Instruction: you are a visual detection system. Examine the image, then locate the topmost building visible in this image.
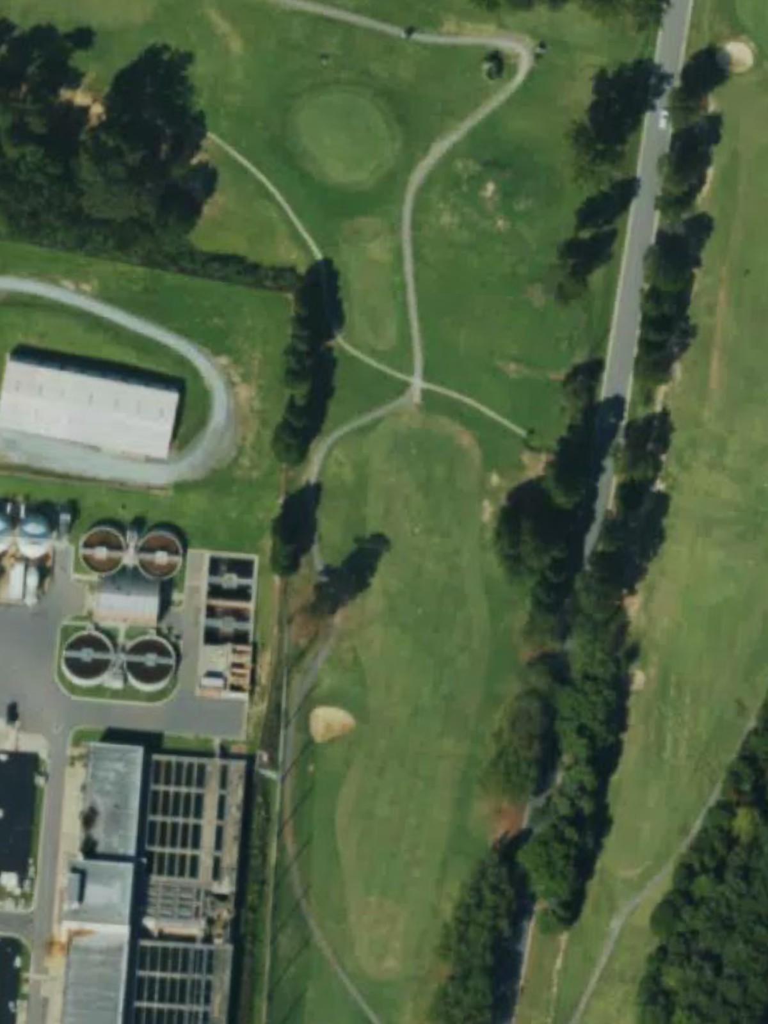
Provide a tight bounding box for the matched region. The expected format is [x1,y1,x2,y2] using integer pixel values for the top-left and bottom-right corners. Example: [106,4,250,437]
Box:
[0,360,179,465]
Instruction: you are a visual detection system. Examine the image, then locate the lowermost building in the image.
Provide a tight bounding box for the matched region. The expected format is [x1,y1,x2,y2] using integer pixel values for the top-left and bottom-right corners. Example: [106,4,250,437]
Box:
[59,922,129,1024]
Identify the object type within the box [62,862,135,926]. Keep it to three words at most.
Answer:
building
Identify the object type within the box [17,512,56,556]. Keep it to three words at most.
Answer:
storage tank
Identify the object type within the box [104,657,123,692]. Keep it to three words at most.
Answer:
building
